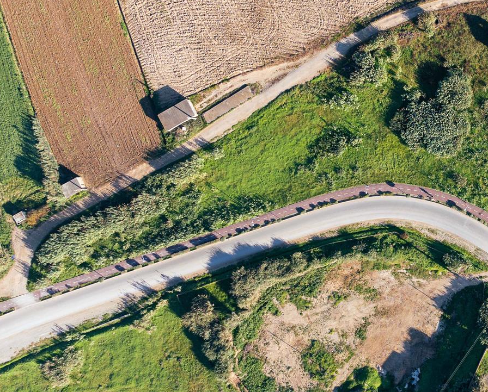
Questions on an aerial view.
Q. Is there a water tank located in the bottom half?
No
